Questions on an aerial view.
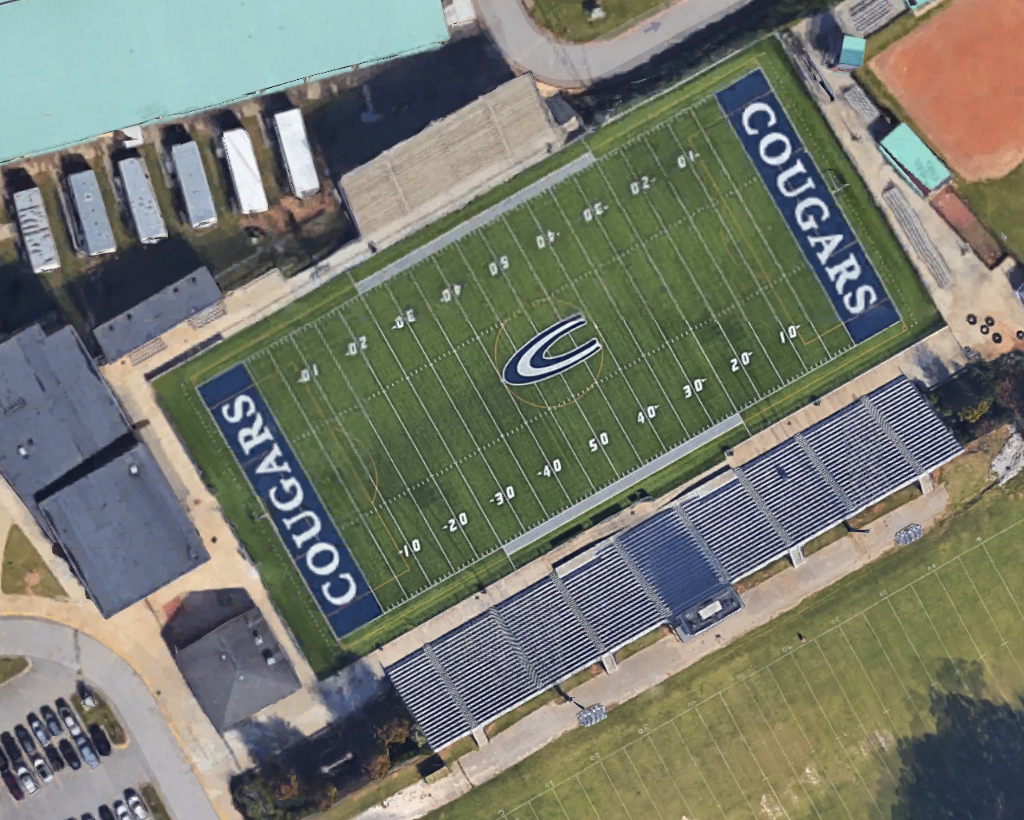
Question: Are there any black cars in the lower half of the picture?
Yes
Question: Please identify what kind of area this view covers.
sports ground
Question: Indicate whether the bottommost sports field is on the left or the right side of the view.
right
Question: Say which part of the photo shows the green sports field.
center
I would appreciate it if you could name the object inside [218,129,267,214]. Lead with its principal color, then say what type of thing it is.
white trailer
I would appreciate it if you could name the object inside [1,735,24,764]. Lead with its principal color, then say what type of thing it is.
black car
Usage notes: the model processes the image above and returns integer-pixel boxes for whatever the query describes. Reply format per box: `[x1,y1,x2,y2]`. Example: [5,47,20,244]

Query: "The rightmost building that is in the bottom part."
[175,606,302,733]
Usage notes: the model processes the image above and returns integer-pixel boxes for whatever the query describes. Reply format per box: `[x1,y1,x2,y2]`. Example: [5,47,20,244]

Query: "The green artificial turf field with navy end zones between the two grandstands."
[151,34,944,679]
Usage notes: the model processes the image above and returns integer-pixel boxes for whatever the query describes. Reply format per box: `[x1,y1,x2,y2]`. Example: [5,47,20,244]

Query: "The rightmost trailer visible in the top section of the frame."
[269,109,320,198]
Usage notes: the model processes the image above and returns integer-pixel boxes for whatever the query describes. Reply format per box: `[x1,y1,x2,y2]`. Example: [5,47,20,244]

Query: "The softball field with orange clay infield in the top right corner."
[866,0,1024,255]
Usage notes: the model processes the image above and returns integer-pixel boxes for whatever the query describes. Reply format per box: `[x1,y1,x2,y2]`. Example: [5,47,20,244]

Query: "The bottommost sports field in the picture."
[423,484,1024,820]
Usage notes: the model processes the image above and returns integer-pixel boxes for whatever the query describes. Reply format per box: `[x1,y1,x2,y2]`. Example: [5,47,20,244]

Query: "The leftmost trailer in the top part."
[11,186,61,273]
